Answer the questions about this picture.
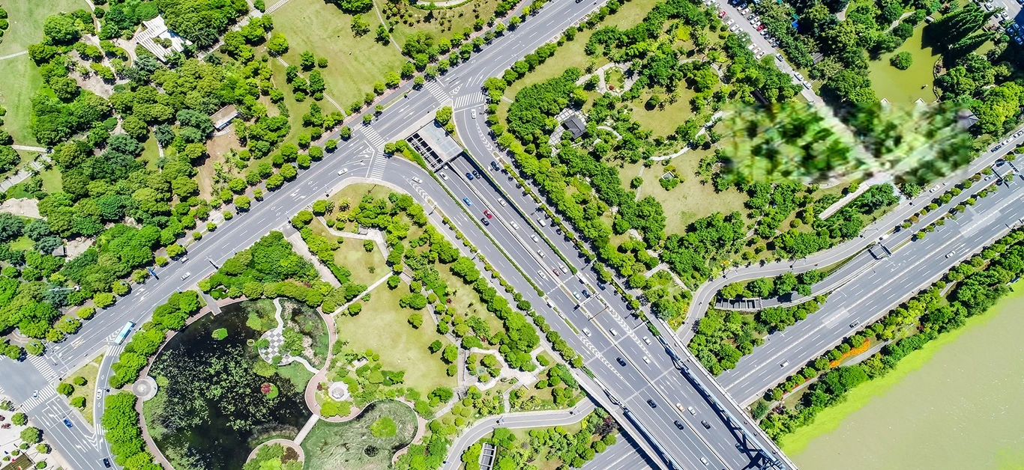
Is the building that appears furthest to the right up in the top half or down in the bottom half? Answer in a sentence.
Seen from above, the building that appears furthest to the right lies in the top half of the view.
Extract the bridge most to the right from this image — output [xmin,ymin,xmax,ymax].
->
[443,158,799,470]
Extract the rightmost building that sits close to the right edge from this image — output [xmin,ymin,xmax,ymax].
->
[955,108,983,130]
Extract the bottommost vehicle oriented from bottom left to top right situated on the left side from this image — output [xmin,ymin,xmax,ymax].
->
[113,321,133,345]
